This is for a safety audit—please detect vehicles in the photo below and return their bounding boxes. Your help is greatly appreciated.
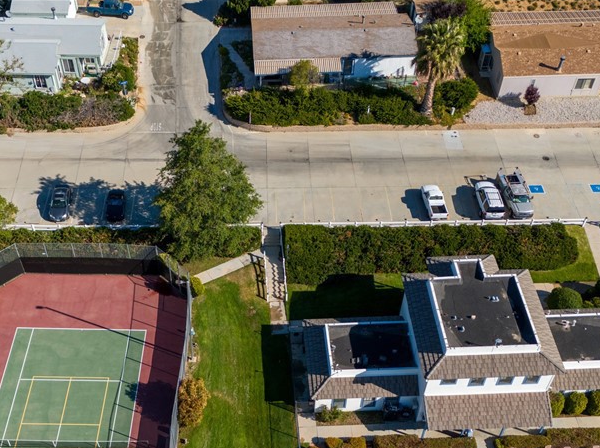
[424,185,452,222]
[87,0,130,19]
[503,162,537,215]
[478,184,509,219]
[45,182,71,220]
[101,185,125,222]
